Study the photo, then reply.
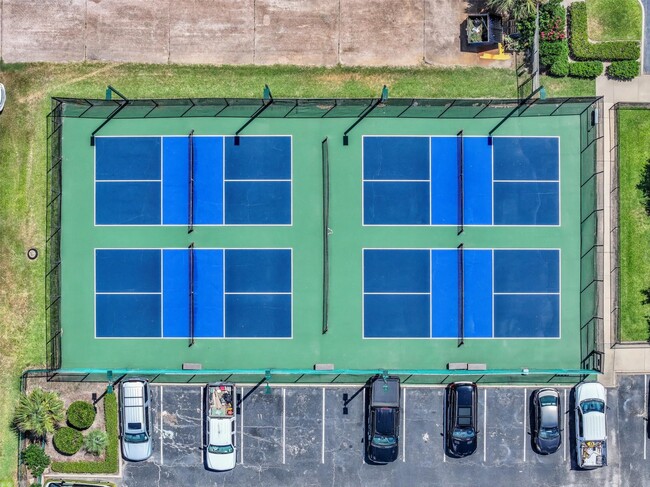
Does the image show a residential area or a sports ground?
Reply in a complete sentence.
This looks like a sports ground.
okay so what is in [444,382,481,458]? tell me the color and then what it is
black car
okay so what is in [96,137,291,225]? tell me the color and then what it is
blue sports court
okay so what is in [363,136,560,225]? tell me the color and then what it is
blue sports court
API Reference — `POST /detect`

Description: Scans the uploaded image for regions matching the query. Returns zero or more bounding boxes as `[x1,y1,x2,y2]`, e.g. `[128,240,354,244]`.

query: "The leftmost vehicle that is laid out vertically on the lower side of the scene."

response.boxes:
[117,379,154,461]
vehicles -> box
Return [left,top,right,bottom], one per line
[202,382,240,470]
[444,382,481,458]
[0,84,6,110]
[533,388,566,456]
[117,379,154,461]
[574,382,612,470]
[368,374,404,462]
